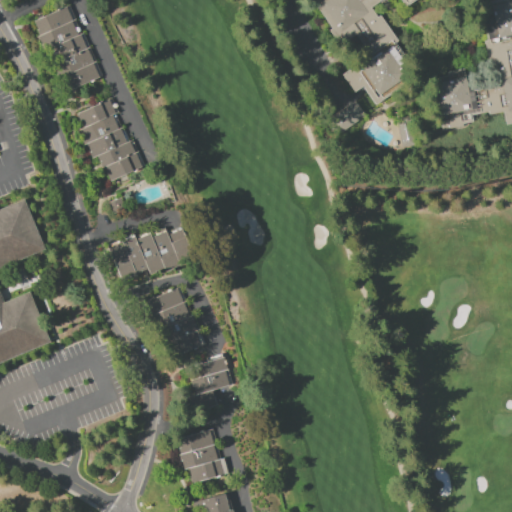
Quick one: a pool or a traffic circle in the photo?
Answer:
pool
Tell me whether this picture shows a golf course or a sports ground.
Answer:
golf course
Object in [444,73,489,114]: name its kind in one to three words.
house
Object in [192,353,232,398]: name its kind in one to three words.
house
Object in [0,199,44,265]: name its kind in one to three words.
building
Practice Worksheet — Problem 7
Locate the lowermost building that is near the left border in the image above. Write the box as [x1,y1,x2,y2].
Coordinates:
[0,292,50,364]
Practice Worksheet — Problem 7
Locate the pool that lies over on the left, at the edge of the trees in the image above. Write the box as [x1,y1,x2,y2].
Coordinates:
[136,186,163,204]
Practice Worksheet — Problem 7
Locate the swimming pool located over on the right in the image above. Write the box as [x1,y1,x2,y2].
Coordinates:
[366,118,394,146]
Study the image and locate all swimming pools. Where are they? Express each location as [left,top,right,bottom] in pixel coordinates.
[136,186,163,204]
[366,118,394,146]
